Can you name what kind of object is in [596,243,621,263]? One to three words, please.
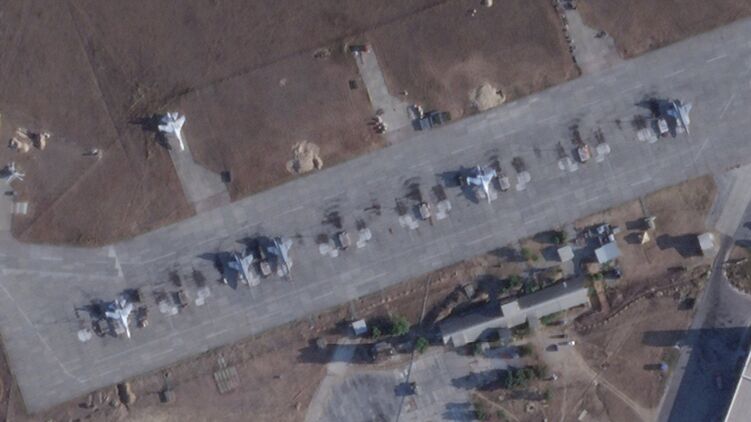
building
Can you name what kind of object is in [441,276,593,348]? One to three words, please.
building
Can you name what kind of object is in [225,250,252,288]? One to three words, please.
airplane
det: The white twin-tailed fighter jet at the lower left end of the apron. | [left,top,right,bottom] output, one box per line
[105,299,133,338]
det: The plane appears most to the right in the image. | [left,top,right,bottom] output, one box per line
[664,97,691,135]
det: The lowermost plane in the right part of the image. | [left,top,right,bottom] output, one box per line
[467,164,495,203]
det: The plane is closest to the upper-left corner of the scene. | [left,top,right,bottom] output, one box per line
[2,164,25,181]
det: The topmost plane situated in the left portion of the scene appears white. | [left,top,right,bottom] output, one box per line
[158,112,186,150]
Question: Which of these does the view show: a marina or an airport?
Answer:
airport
